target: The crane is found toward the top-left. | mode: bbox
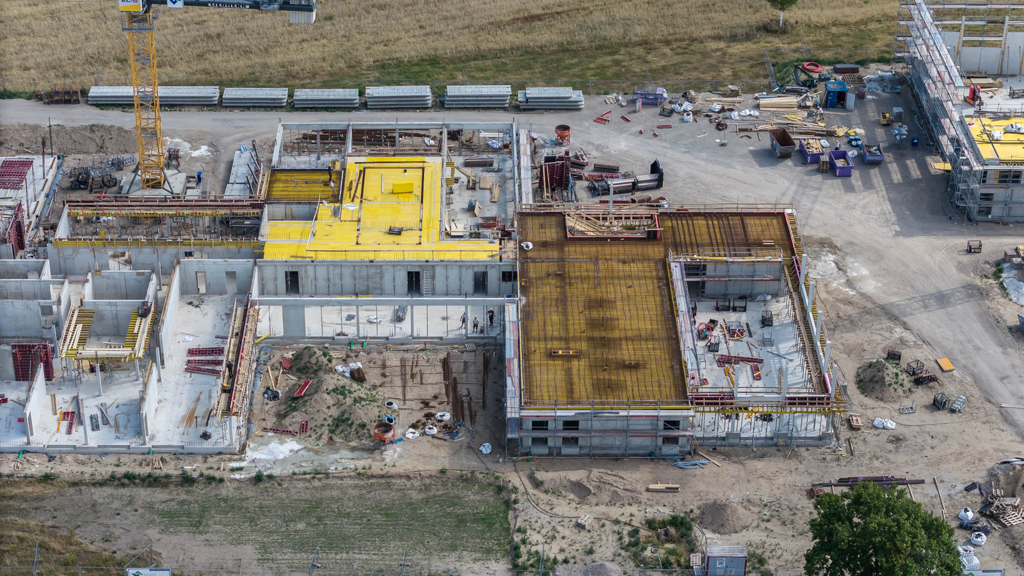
[101,0,307,188]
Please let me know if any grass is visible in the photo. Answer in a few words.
Yes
